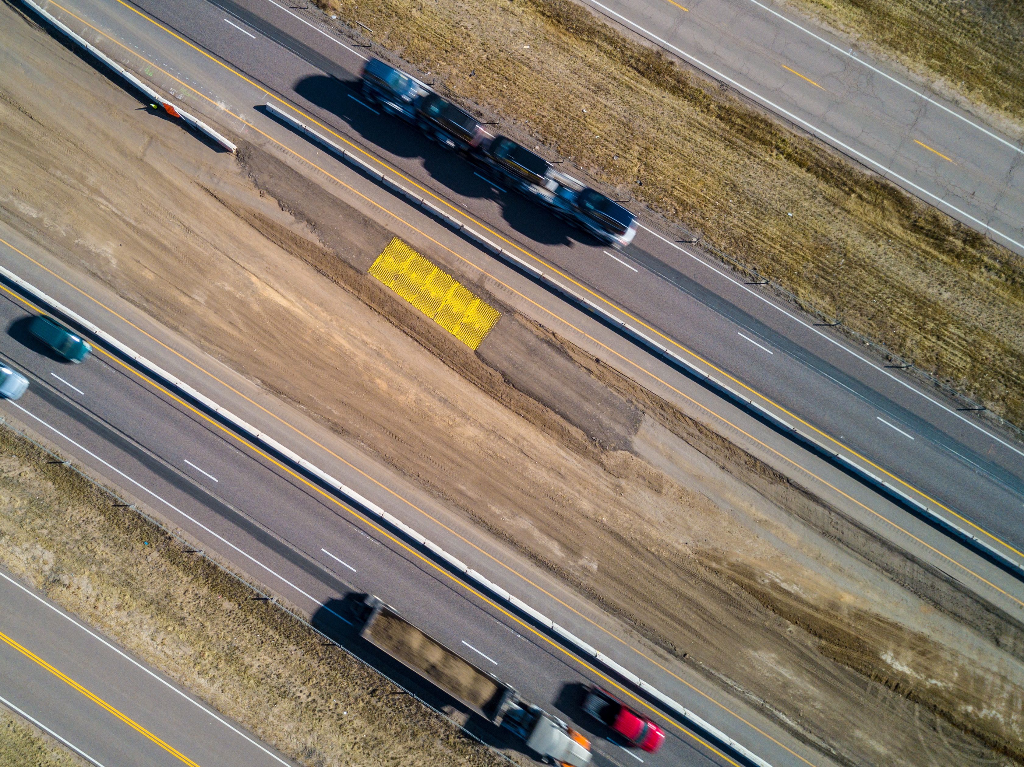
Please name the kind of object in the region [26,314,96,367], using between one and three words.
car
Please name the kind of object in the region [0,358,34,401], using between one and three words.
car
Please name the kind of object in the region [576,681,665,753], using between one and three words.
truck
